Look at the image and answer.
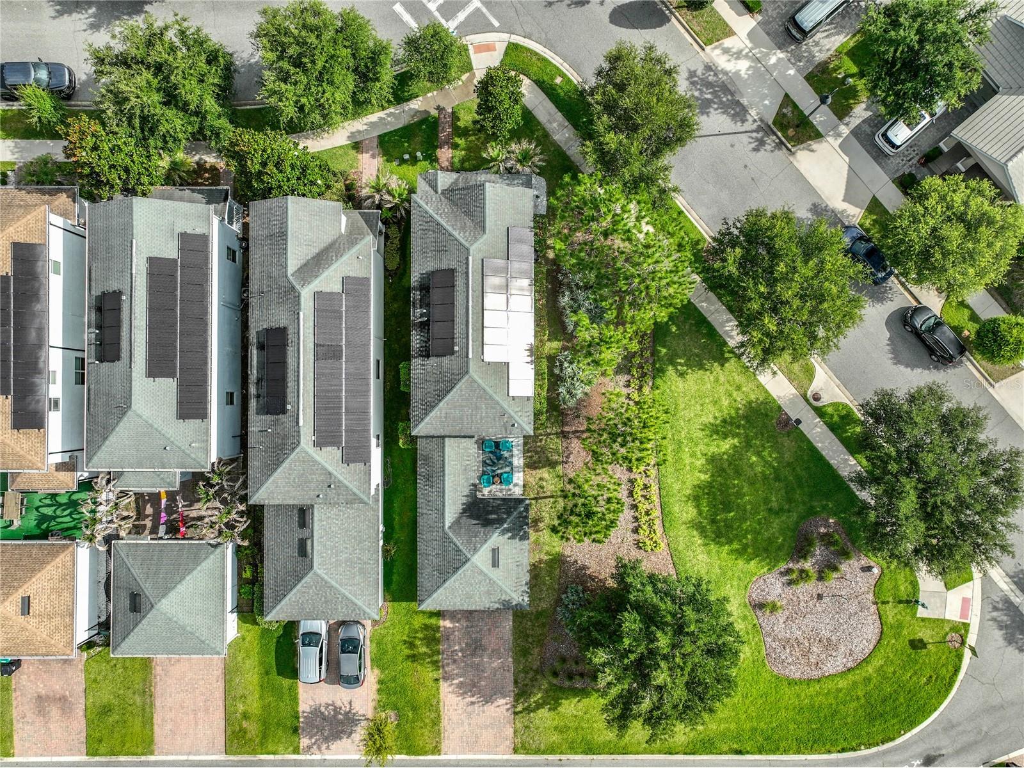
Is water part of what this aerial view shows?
No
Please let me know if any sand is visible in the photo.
No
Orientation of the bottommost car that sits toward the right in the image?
diagonally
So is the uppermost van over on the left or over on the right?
right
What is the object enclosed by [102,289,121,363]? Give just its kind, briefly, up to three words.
solar array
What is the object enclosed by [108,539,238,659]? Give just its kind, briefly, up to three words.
building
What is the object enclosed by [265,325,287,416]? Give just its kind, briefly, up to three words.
solar array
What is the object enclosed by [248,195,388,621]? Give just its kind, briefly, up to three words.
house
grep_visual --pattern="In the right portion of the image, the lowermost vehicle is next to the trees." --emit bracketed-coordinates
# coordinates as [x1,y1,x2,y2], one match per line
[900,302,969,370]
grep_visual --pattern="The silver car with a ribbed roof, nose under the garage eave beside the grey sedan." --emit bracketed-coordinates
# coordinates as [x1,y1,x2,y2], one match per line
[296,620,331,680]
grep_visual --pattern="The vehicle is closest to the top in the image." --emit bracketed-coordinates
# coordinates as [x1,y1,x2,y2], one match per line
[783,0,849,42]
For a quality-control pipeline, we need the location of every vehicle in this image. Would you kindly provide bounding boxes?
[900,302,969,370]
[839,223,893,290]
[0,63,82,103]
[296,620,331,680]
[872,102,935,159]
[783,0,849,42]
[334,620,368,689]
